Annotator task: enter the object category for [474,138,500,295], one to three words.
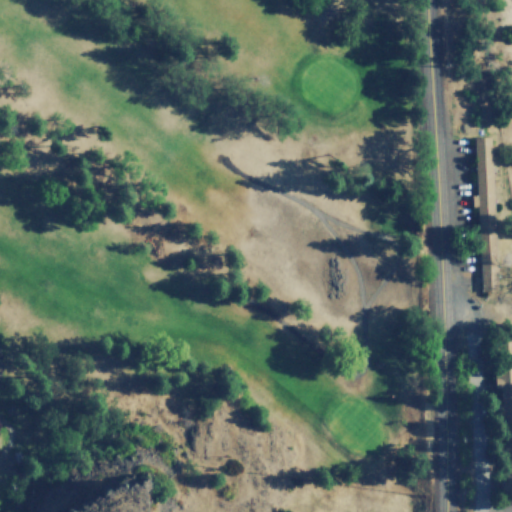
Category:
building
